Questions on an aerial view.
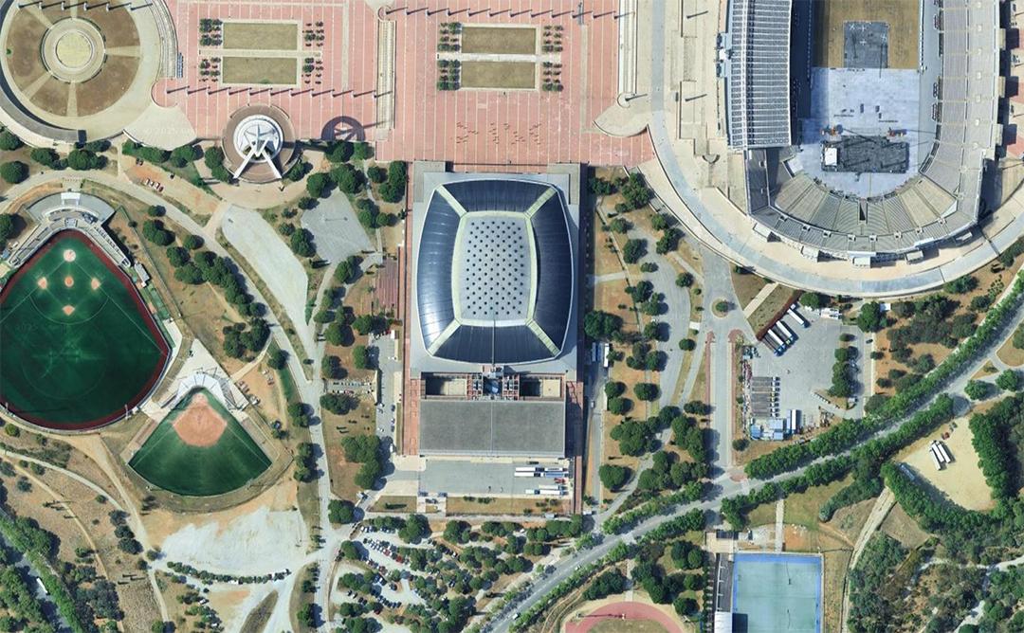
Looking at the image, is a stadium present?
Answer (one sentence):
Yes, I can see a stadium in this picture.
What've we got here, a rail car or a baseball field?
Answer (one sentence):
It is a baseball field that can be seen here.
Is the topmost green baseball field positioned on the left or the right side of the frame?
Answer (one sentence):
The topmost green baseball field appears in the left half of the scene.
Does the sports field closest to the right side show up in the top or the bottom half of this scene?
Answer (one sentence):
Seen from above, the sports field closest to the right side lies in the top half of the view.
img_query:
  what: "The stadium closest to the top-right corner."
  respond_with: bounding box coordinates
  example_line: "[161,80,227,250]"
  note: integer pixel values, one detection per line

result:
[717,0,1006,267]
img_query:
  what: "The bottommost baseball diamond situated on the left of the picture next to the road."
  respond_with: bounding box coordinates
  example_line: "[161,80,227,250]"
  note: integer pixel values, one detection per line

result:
[120,384,292,508]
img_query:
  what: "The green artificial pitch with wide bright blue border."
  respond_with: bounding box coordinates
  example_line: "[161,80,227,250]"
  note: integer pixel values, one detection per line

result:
[732,551,824,633]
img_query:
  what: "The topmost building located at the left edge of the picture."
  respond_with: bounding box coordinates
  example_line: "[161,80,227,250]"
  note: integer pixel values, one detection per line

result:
[0,91,87,153]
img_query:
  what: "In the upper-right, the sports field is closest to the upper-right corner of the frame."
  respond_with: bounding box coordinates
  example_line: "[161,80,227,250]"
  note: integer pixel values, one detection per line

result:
[813,0,919,68]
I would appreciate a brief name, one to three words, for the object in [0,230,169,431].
baseball field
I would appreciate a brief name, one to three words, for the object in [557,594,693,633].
running track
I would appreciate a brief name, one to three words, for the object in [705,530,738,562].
building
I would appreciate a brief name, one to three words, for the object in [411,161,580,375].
stadium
